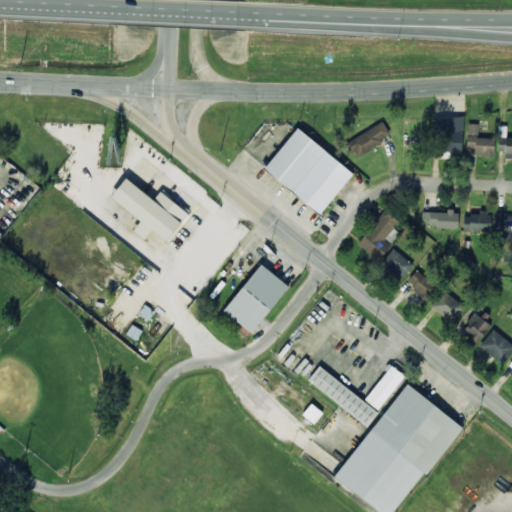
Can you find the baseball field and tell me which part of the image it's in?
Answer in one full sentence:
The baseball field sits in the bottom left section of the image.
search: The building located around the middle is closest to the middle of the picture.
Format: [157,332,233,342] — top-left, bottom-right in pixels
[224,265,289,332]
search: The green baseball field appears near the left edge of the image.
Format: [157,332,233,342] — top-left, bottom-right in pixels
[0,292,102,476]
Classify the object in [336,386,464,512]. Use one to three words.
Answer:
warehouse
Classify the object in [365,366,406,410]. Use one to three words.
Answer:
building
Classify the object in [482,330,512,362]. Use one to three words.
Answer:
house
